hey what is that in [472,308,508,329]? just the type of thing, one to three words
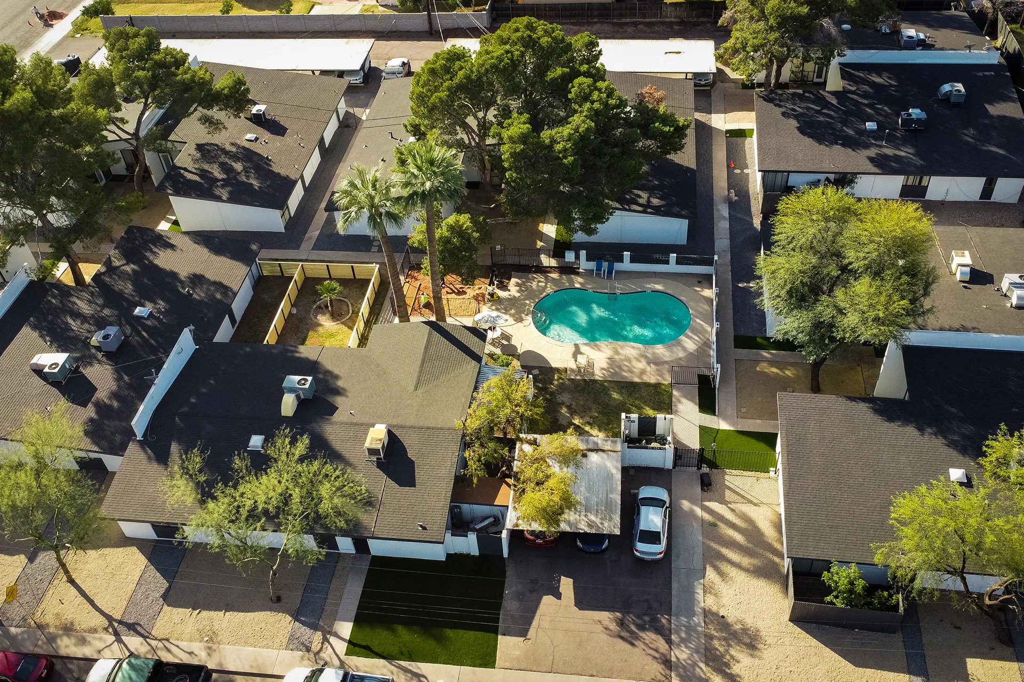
umbrella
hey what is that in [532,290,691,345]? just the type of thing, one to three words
swimming pool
